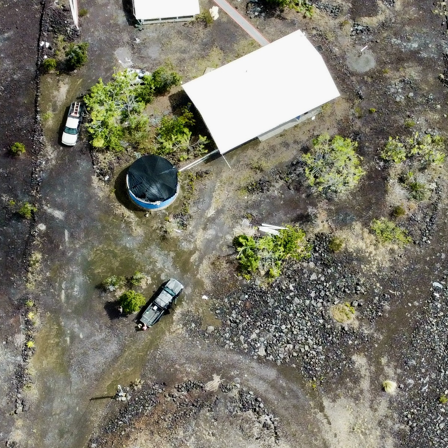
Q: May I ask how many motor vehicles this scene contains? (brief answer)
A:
2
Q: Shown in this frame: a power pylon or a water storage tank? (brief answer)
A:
water storage tank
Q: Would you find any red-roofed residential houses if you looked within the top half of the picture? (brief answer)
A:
No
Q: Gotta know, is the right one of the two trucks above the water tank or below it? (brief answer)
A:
below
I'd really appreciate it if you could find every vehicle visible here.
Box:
[142,276,185,331]
[60,100,86,147]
